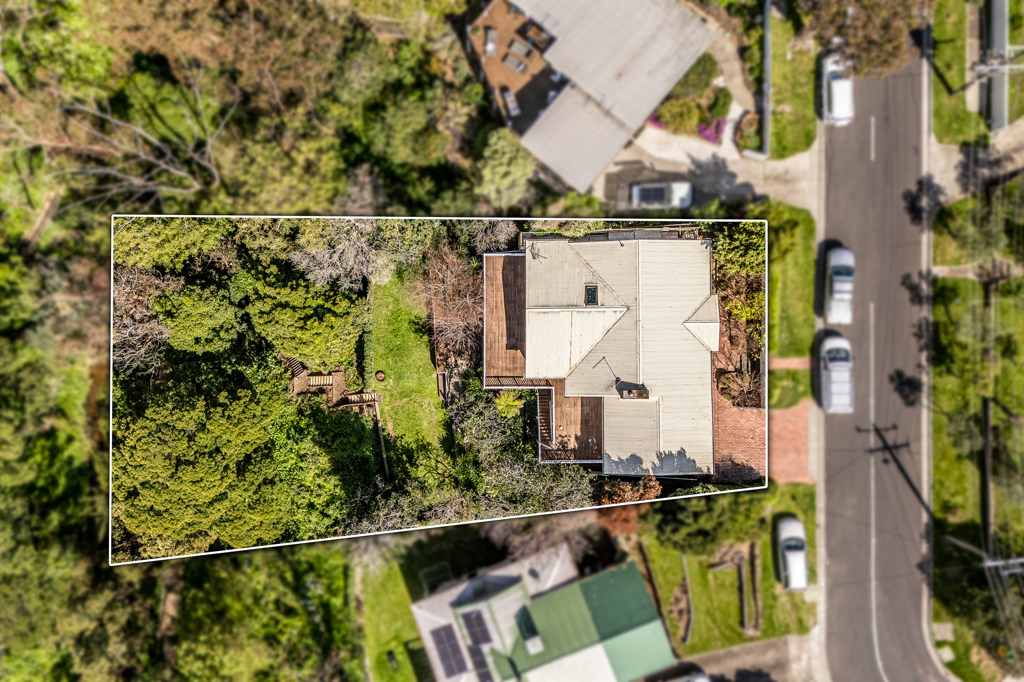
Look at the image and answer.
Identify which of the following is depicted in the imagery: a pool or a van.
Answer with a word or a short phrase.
van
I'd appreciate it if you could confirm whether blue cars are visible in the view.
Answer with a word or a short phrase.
No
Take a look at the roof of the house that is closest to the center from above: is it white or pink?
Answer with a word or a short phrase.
white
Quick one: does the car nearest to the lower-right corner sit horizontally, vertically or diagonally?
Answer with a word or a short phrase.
vertically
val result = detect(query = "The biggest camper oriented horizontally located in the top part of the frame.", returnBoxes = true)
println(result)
[636,179,697,209]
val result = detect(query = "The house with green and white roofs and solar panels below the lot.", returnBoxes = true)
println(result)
[410,533,676,682]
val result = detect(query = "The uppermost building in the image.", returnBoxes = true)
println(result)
[514,0,717,198]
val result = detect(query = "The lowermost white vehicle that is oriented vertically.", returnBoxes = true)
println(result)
[779,518,814,593]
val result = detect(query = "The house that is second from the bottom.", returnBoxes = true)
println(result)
[525,239,720,477]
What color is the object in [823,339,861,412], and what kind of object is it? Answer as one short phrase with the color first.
white van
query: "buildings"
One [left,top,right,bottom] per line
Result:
[410,533,676,682]
[514,0,717,198]
[525,239,720,477]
